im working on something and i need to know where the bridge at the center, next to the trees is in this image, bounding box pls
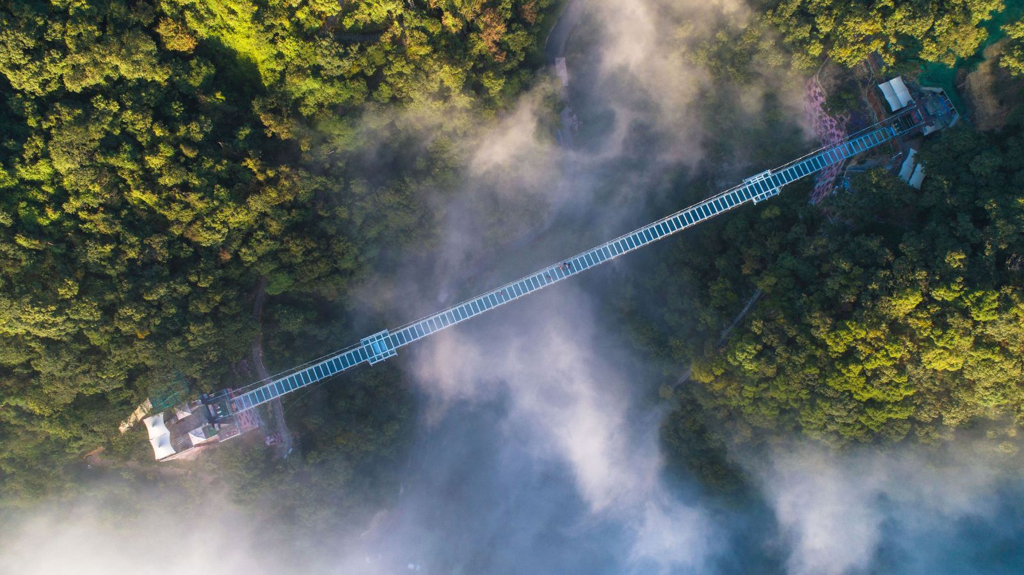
[197,106,928,431]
